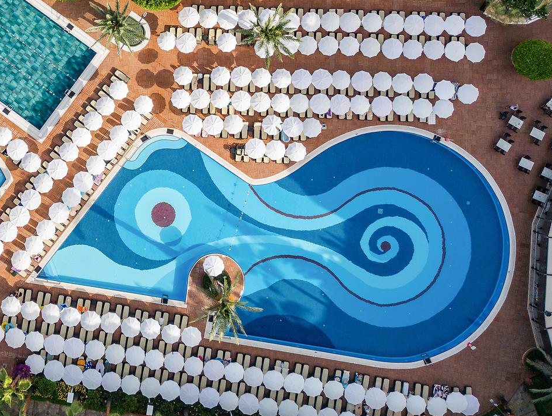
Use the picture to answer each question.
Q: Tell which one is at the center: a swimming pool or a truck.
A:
swimming pool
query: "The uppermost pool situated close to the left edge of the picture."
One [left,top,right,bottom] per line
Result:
[0,0,109,142]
